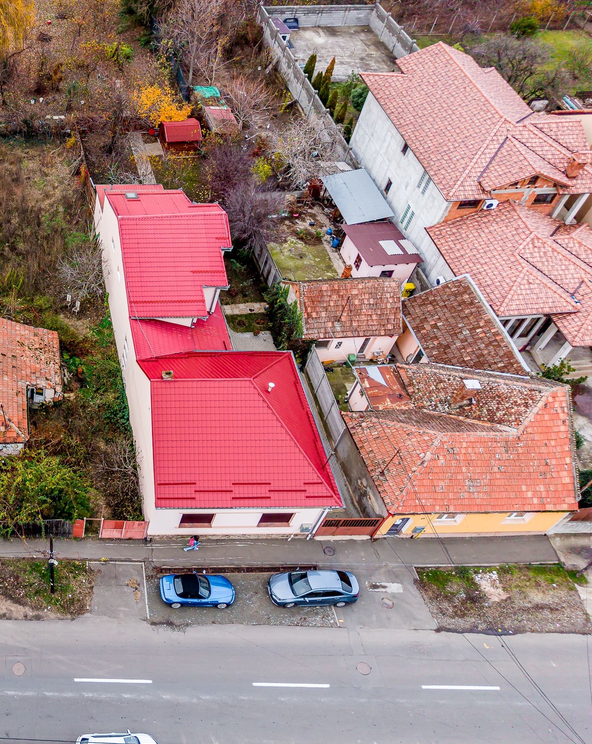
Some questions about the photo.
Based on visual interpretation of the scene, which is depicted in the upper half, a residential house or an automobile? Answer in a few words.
residential house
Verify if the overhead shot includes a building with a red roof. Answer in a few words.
Yes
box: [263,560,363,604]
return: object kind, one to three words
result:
car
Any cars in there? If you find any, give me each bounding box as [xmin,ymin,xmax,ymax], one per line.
[156,565,236,608]
[73,729,163,744]
[263,560,363,604]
